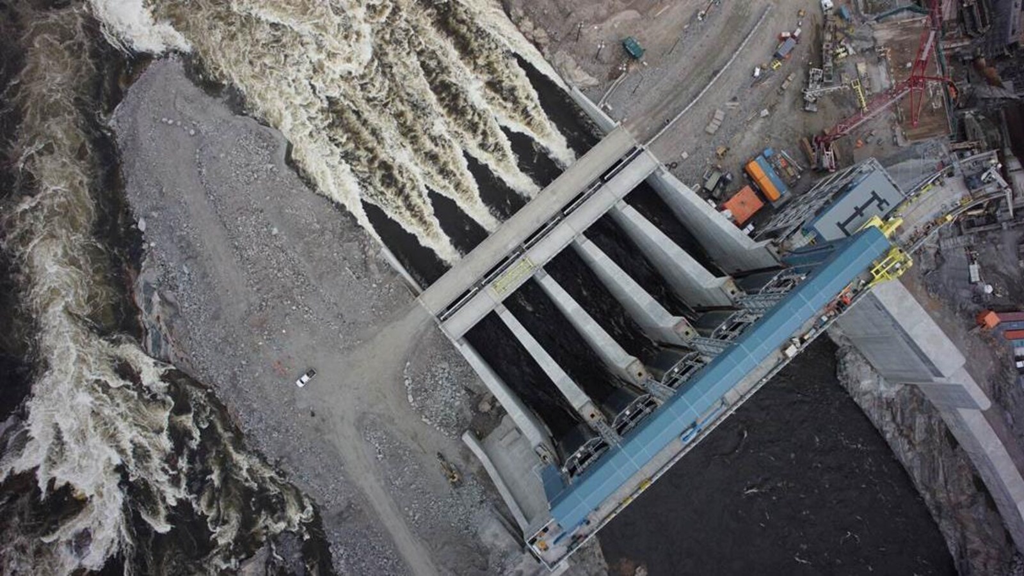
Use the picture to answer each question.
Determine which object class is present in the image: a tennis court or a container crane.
container crane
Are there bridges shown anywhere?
Yes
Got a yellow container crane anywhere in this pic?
Yes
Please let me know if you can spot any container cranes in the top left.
No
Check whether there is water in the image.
Yes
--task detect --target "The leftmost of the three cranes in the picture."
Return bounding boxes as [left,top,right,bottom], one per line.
[800,69,863,110]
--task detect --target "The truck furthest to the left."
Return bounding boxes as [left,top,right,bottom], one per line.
[294,368,317,389]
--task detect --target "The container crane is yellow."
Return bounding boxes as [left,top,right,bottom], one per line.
[853,215,912,286]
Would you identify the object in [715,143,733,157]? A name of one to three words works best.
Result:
work vehicle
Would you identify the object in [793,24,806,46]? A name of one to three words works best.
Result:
vehicle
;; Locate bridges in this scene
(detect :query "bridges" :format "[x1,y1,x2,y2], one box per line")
[417,126,660,340]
